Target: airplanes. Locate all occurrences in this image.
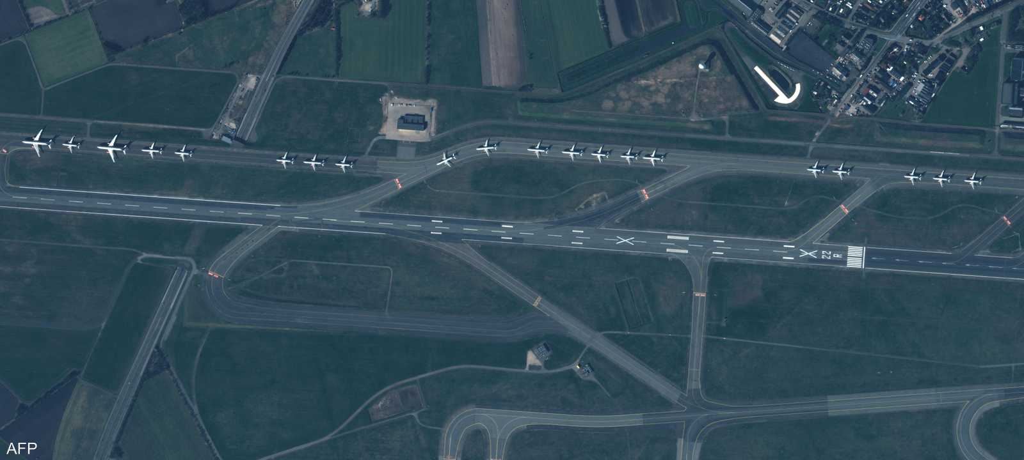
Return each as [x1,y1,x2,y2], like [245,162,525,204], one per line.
[964,174,981,190]
[62,138,80,153]
[933,171,950,188]
[562,145,582,160]
[98,135,126,163]
[22,130,51,157]
[437,153,456,168]
[477,140,496,156]
[833,164,850,180]
[528,143,548,158]
[904,169,921,185]
[277,153,294,169]
[643,150,663,167]
[335,157,353,173]
[175,145,192,161]
[621,150,638,164]
[304,155,323,171]
[142,143,162,159]
[592,147,609,163]
[807,162,824,177]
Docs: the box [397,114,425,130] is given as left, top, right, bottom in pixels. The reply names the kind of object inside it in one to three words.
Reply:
building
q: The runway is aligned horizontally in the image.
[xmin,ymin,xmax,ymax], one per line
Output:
[0,186,1024,279]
